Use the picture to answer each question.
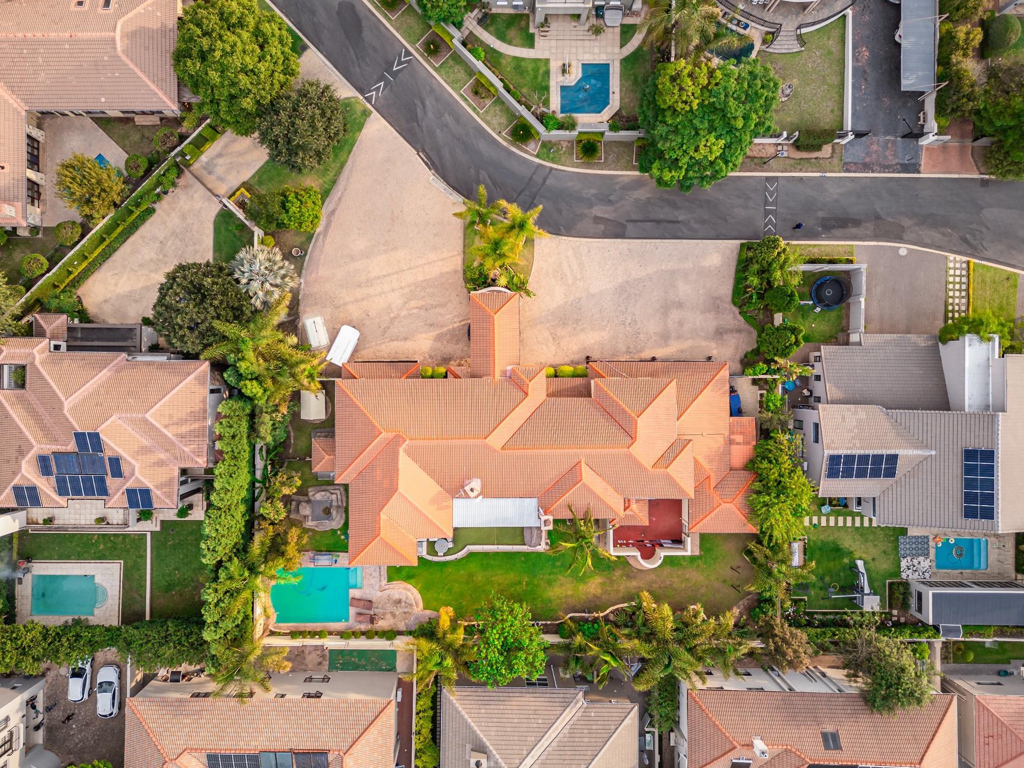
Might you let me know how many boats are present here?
0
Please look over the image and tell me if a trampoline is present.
Yes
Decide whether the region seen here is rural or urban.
urban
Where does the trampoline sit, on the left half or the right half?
right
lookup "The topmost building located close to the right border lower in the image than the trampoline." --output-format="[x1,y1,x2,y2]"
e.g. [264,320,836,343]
[800,334,1024,534]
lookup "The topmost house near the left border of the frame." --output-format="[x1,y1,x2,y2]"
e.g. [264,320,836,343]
[0,0,199,227]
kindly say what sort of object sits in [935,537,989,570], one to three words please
swimming pool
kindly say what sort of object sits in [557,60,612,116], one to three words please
swimming pool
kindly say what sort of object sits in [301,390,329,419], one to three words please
shed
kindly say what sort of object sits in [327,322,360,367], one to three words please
trailer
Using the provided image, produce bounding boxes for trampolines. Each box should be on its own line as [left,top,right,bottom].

[809,269,860,312]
